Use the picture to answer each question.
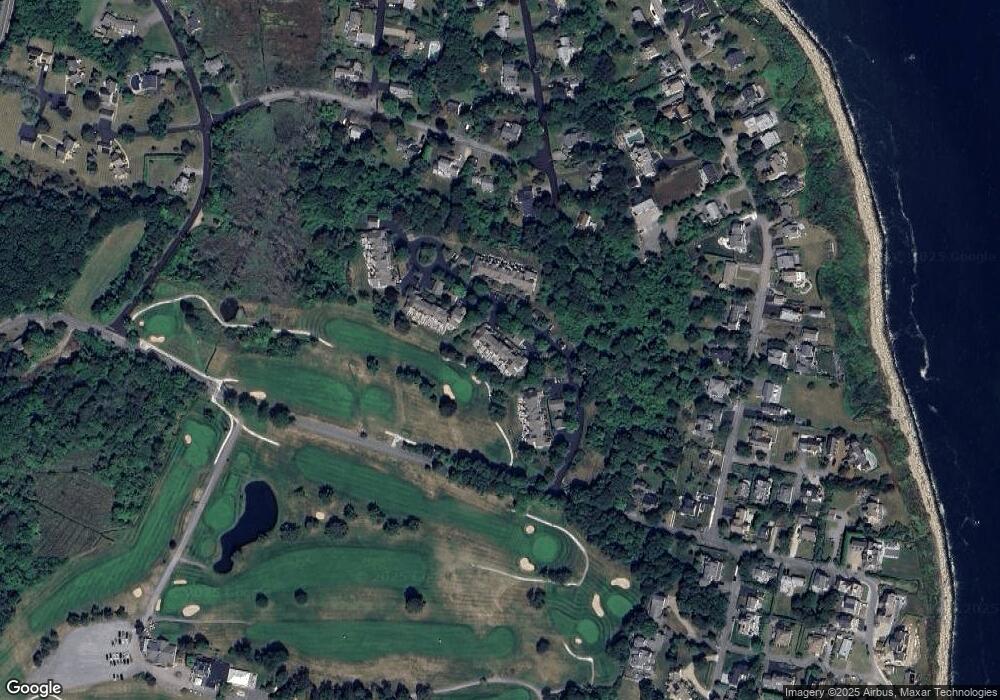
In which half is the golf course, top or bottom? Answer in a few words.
bottom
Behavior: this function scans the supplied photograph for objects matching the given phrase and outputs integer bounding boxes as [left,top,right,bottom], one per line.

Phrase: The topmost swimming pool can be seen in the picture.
[428,40,440,60]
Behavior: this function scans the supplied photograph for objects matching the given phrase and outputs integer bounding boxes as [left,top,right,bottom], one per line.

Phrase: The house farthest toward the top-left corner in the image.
[25,45,53,67]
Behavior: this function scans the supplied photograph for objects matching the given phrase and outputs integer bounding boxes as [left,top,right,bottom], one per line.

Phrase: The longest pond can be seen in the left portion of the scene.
[214,481,278,573]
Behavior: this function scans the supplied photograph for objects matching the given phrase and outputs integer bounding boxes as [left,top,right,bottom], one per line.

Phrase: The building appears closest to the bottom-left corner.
[142,636,185,668]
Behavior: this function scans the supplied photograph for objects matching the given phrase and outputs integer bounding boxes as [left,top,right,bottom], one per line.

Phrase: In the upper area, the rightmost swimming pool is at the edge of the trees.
[625,128,644,145]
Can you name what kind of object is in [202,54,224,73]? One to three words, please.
house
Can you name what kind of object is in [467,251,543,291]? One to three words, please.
building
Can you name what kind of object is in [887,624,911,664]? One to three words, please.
house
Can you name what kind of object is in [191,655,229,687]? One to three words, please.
building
